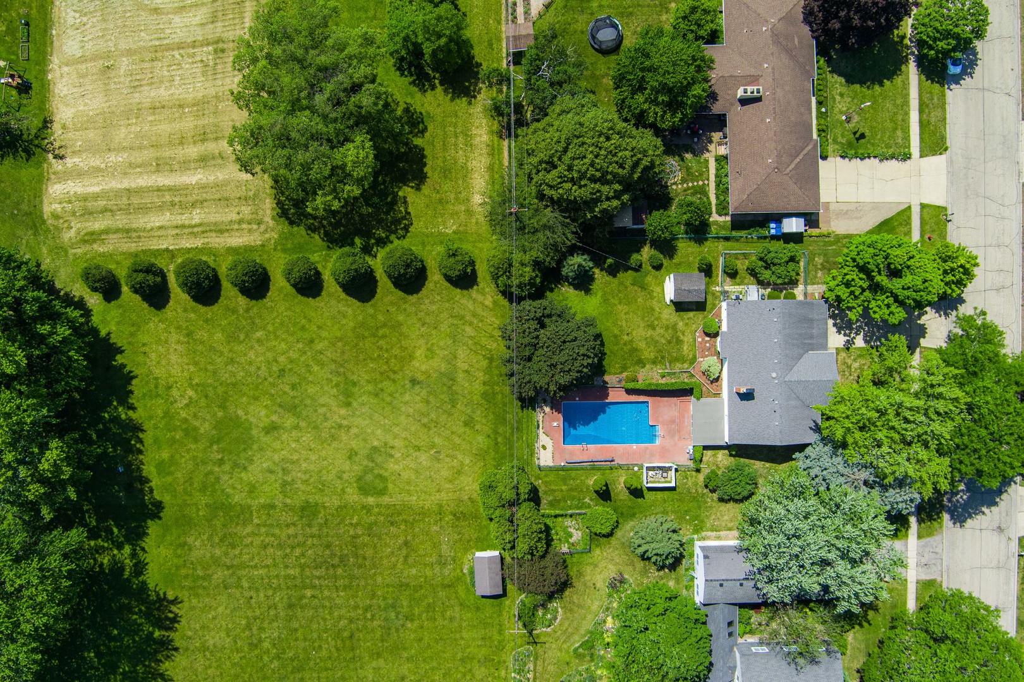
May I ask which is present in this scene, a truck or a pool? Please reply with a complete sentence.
Of the two, only a pool appears.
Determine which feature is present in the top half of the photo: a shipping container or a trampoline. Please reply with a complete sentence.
What appears in the top half of the photo is a trampoline.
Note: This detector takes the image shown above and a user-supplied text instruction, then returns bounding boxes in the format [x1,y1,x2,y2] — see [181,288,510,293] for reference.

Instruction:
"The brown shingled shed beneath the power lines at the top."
[506,23,534,56]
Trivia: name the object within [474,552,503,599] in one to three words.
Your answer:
shed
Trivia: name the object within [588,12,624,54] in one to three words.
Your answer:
trampoline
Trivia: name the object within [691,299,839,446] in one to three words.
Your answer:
house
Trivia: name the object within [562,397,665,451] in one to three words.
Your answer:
swimming pool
